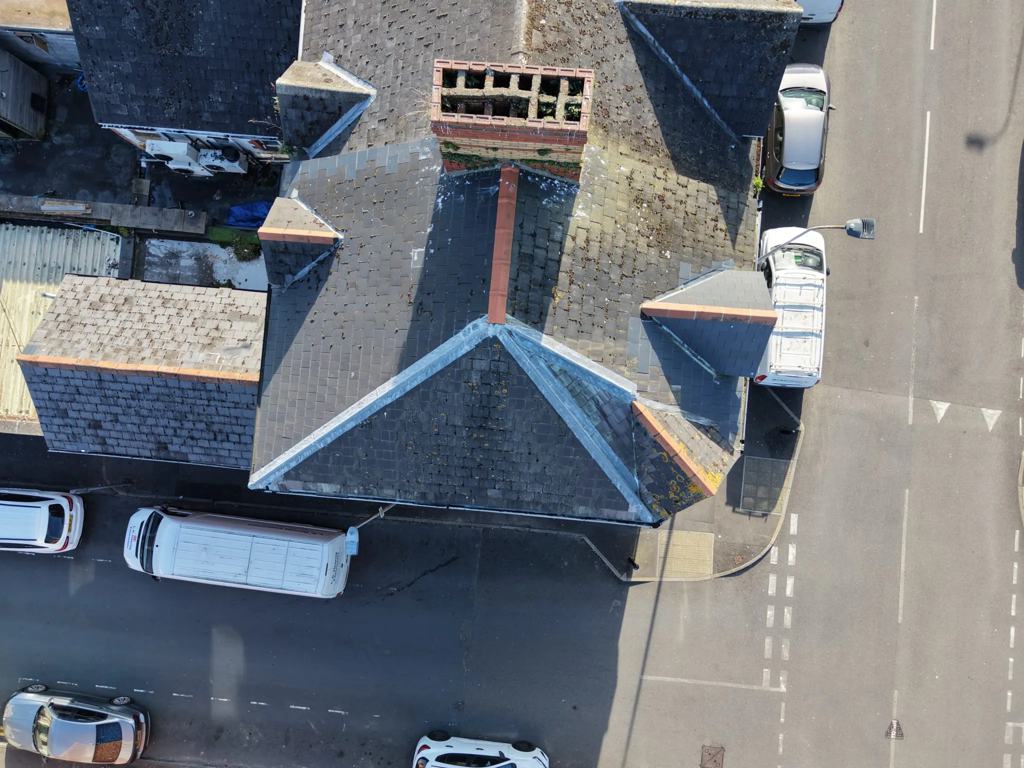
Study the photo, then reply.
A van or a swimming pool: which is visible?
van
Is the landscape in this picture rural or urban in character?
urban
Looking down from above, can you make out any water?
No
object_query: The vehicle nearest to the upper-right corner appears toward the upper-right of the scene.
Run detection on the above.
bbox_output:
[799,0,854,26]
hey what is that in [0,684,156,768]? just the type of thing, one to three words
car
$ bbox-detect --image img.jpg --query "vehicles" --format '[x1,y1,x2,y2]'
[761,65,837,198]
[0,684,156,768]
[122,497,351,602]
[0,480,86,552]
[799,0,854,26]
[413,728,551,768]
[751,227,833,390]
